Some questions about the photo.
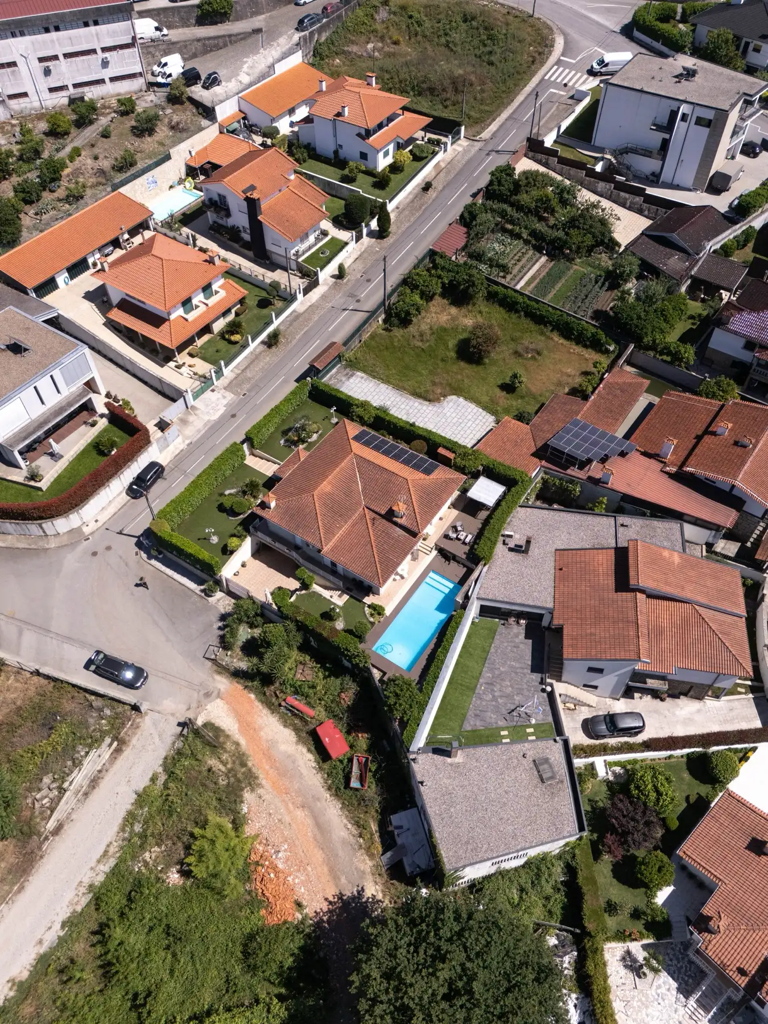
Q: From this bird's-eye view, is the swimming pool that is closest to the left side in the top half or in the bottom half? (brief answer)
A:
top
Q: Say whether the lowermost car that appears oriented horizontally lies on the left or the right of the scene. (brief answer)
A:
right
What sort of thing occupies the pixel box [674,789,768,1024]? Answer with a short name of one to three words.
house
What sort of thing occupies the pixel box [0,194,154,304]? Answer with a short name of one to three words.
building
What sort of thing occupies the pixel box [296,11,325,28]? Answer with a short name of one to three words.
car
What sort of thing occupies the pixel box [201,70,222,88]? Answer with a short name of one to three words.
car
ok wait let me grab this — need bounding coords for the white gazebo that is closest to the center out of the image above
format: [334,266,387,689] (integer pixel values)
[464,477,507,524]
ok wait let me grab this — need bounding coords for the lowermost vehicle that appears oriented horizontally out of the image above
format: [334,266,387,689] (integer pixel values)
[587,712,650,743]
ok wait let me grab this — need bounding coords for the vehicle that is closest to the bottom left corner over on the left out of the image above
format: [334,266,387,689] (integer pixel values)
[82,647,149,692]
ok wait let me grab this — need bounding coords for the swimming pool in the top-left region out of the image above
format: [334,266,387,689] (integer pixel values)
[147,185,204,226]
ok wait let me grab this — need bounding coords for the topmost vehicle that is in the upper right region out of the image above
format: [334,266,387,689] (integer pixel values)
[595,45,640,72]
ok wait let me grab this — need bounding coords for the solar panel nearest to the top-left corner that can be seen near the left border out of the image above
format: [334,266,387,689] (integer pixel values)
[1,329,29,354]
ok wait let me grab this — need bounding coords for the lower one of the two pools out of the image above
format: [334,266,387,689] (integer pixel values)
[370,568,478,676]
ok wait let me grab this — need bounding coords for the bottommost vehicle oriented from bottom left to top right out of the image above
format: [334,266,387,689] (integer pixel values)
[122,457,169,497]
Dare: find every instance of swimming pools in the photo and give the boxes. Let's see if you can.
[147,185,204,226]
[370,568,478,676]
